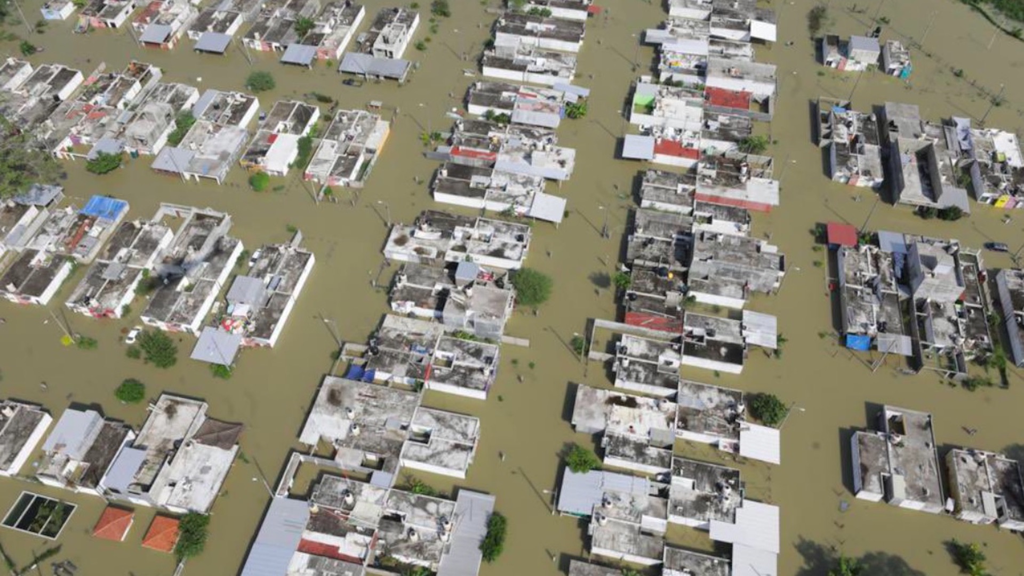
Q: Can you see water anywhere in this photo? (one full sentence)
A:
Yes, water can be seen from above here.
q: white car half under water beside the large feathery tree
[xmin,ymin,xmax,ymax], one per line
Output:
[125,326,143,346]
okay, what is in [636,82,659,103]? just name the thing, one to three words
shed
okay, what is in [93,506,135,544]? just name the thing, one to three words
building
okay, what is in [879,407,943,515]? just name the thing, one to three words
house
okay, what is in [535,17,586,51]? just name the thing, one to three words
house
